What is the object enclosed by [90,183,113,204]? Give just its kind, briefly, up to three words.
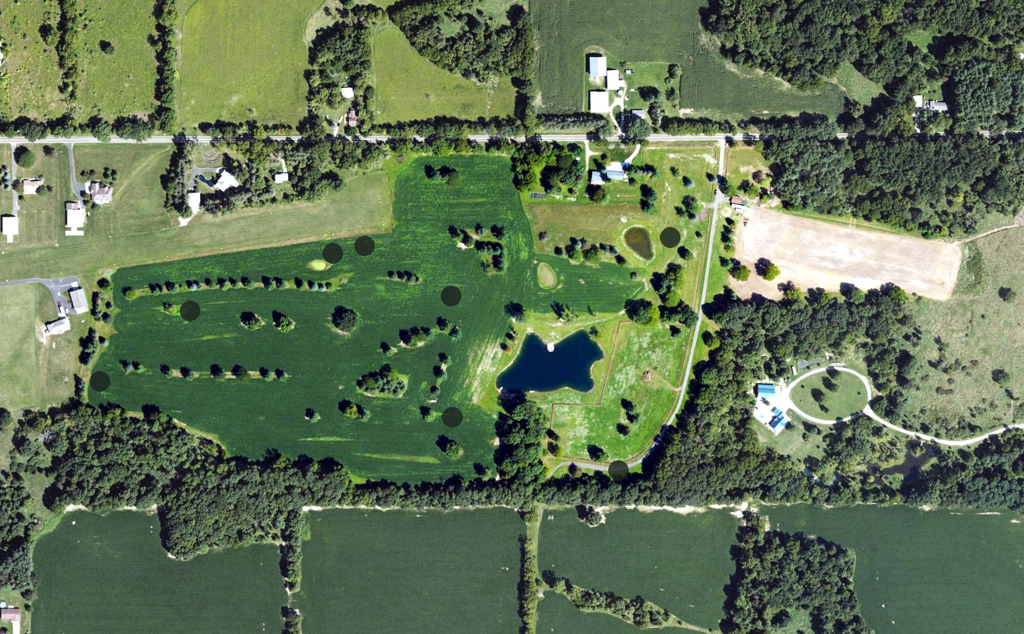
house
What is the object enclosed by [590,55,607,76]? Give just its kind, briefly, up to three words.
barn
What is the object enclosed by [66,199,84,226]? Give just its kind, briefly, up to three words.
hangar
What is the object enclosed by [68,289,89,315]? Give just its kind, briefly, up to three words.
barn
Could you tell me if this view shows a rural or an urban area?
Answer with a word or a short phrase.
rural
